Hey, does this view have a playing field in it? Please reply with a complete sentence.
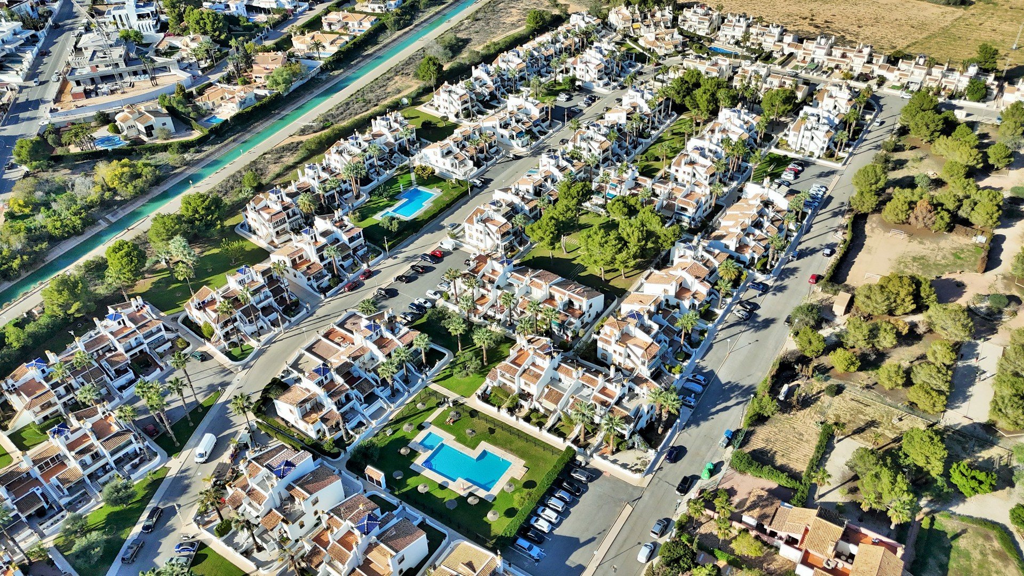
Yes, there is a playing field in the image.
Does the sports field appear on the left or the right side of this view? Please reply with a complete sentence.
It is on the right.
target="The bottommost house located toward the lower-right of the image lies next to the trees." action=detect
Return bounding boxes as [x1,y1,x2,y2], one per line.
[745,486,910,576]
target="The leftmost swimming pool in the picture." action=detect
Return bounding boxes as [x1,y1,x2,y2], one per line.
[91,133,128,148]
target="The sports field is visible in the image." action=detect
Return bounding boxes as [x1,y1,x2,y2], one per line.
[834,212,985,287]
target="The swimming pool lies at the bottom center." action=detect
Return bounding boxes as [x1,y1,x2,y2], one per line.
[408,422,529,502]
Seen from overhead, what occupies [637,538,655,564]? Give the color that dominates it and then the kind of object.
white car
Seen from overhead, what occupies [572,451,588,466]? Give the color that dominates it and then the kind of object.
white car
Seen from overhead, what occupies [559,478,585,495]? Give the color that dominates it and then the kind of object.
black car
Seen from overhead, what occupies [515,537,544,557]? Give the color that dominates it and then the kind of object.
blue car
